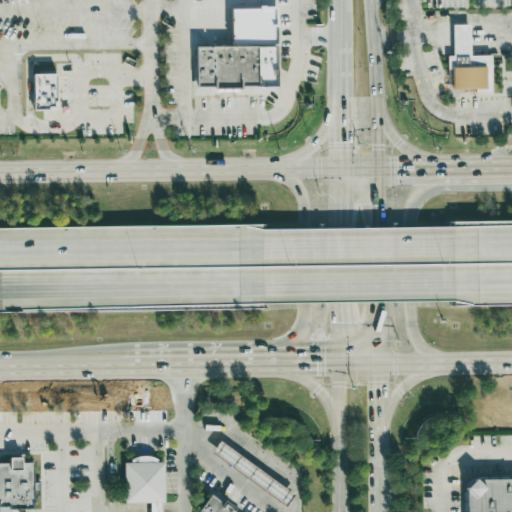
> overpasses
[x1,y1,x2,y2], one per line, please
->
[0,220,512,315]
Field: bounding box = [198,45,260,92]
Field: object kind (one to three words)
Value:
building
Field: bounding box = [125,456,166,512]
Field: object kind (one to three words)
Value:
building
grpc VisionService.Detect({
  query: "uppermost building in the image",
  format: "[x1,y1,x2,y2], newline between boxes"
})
[234,5,280,45]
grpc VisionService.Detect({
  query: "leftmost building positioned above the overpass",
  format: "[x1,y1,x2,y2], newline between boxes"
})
[34,73,58,110]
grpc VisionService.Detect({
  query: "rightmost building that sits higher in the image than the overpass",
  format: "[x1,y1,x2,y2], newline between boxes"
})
[448,24,495,94]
